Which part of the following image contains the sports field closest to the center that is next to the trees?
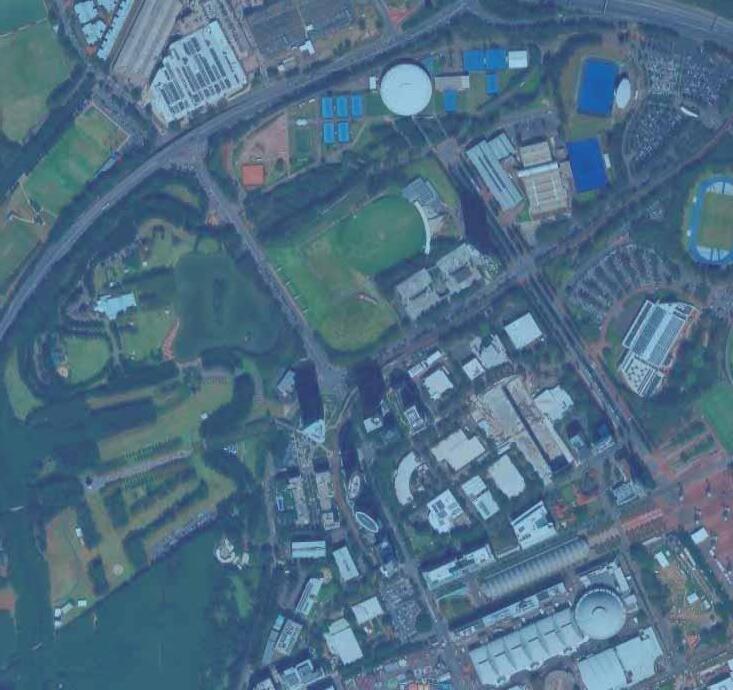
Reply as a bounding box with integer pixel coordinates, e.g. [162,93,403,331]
[264,196,428,352]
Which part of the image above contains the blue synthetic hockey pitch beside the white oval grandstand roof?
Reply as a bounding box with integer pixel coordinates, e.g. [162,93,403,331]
[577,56,621,117]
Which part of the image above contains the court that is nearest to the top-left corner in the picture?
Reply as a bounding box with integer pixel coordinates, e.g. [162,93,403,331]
[243,165,265,187]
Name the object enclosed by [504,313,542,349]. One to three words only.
building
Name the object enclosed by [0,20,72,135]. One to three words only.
sports field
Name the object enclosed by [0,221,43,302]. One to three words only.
sports field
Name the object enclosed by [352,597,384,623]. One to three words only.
building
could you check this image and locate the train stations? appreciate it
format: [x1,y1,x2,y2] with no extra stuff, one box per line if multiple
[467,527,593,602]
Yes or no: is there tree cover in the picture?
Yes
